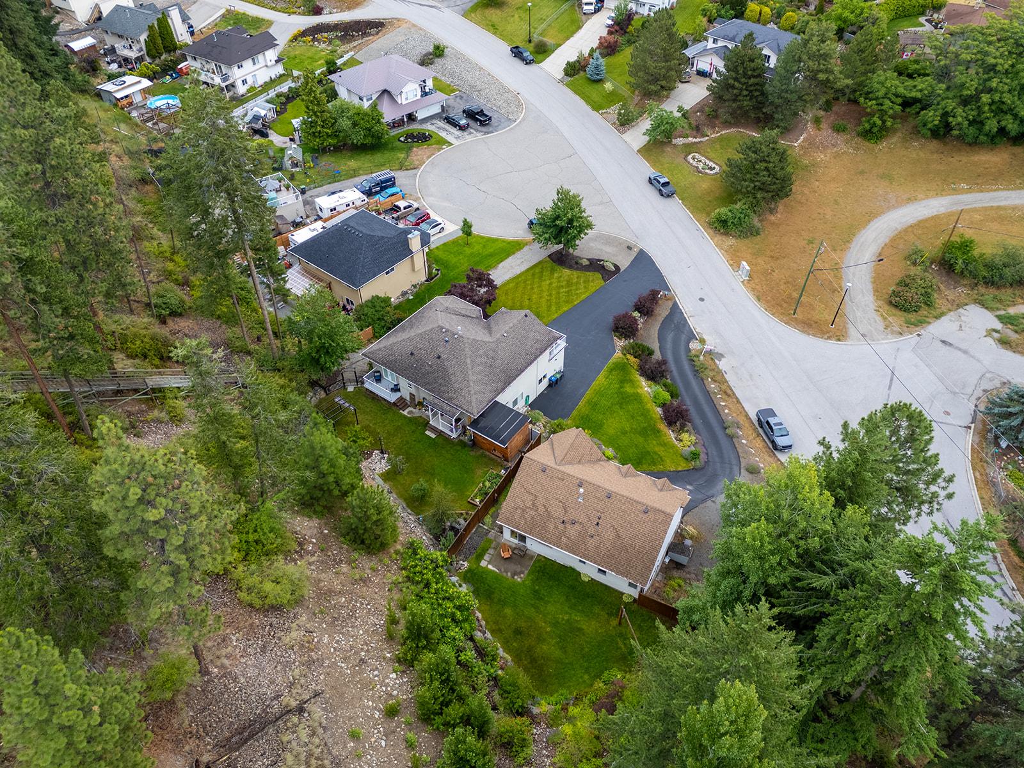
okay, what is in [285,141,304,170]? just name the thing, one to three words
greenhouse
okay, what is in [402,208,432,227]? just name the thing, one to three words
car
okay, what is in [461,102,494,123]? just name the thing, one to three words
truck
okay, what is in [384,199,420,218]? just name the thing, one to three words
vehicle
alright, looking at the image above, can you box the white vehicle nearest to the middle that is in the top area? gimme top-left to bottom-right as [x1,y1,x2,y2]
[423,218,446,235]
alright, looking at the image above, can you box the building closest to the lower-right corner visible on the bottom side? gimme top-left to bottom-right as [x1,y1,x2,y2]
[495,427,691,594]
